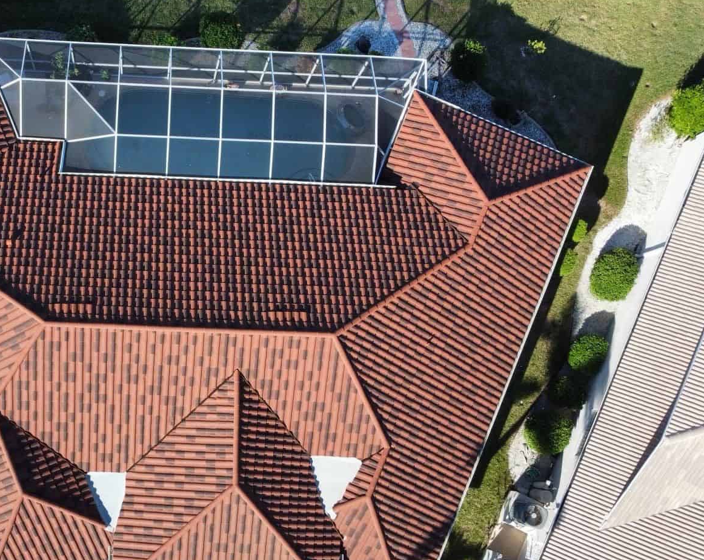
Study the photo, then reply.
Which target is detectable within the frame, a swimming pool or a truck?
swimming pool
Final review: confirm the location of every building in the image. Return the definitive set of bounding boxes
[0,88,596,560]
[531,124,704,560]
